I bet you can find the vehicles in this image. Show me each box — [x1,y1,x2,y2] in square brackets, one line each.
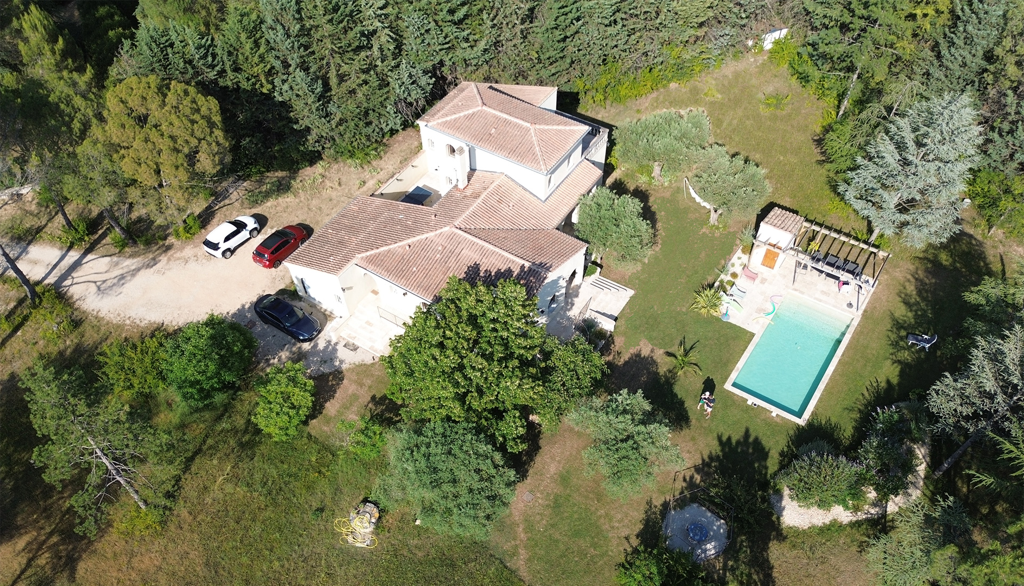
[198,210,262,255]
[250,218,311,265]
[247,293,322,343]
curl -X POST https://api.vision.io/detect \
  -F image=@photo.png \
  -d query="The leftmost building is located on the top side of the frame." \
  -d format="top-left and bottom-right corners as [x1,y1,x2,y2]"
[283,80,609,345]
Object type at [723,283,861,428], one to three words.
swimming pool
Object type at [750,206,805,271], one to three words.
shed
